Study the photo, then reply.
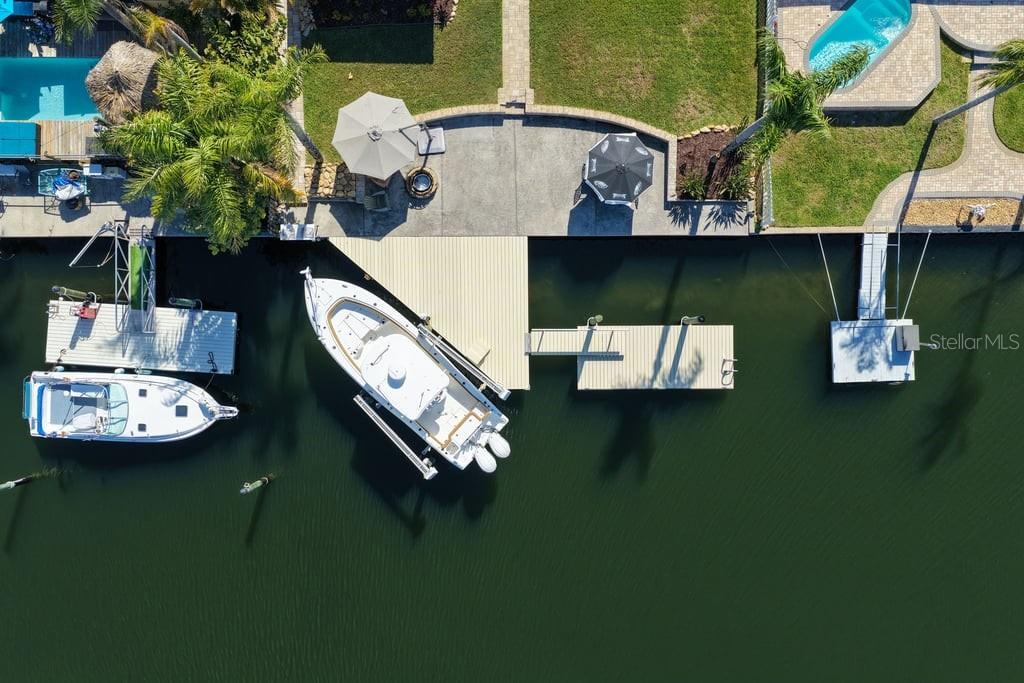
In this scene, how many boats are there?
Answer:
2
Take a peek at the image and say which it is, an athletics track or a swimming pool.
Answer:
swimming pool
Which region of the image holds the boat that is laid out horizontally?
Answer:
left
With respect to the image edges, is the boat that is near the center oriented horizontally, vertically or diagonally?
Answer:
diagonally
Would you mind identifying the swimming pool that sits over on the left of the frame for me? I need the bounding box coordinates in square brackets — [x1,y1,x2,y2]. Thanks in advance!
[0,56,103,122]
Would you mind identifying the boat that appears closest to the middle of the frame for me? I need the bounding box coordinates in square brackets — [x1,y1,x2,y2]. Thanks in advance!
[296,272,514,473]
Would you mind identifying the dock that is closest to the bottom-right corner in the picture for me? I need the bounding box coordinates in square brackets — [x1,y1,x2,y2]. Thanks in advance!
[832,320,915,383]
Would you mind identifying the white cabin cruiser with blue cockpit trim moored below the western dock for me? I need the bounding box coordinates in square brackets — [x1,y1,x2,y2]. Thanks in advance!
[23,372,237,443]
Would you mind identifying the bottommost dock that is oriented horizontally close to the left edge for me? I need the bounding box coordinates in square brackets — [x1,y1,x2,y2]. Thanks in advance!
[45,293,237,374]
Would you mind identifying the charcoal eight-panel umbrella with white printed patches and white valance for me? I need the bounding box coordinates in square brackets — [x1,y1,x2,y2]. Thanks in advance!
[584,134,654,203]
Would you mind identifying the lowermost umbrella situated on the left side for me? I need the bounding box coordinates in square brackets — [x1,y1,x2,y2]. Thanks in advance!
[332,92,445,180]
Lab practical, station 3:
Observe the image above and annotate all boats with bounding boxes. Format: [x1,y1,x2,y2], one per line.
[23,372,237,443]
[296,272,514,473]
